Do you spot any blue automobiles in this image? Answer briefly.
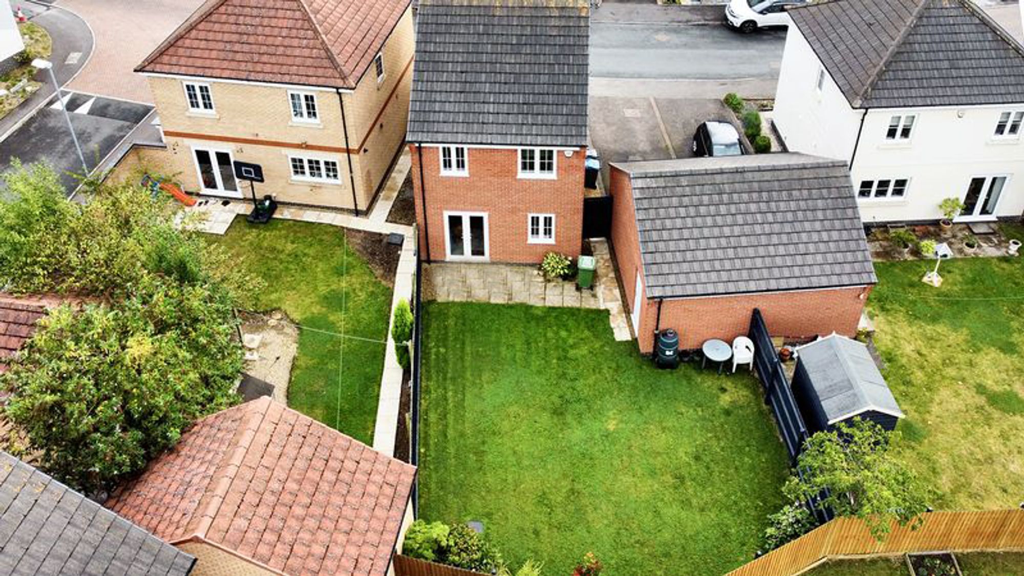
No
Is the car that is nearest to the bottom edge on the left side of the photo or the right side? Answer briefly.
right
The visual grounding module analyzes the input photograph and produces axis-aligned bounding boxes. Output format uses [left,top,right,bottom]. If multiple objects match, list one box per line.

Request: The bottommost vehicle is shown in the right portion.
[694,119,750,158]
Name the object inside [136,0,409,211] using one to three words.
house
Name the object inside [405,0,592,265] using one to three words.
house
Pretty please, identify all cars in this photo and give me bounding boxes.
[722,0,799,34]
[694,119,750,158]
